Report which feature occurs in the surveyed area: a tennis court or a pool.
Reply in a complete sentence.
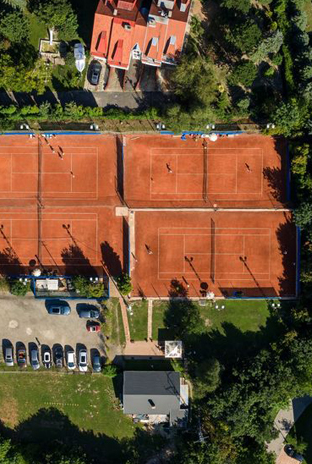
Visible in the photo is a tennis court.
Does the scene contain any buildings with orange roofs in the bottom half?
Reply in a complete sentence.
No, in the bottom half there is no building with an orange roof.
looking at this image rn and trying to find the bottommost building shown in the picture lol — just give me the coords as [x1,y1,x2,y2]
[124,369,188,427]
